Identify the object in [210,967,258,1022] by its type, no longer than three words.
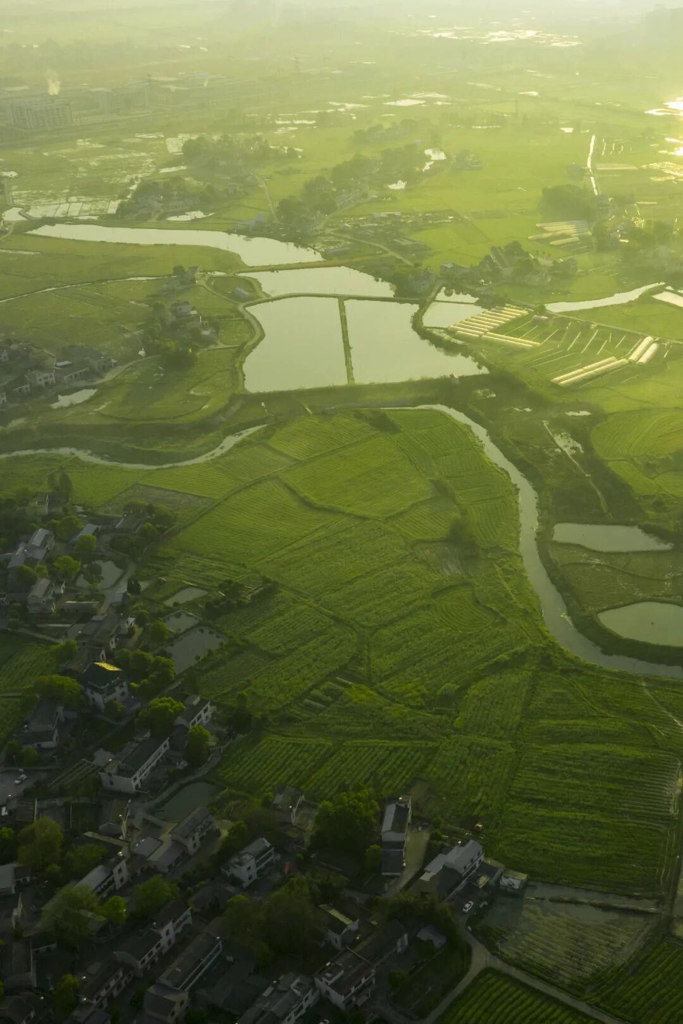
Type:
barn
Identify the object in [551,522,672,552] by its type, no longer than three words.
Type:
pond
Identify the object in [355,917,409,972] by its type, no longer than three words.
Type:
house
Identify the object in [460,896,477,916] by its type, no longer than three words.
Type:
car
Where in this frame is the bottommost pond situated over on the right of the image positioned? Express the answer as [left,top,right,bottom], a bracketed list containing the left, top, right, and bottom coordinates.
[604,601,683,642]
